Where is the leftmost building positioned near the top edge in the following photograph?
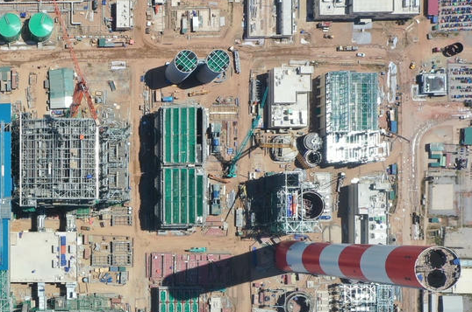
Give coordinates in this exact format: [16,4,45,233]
[115,0,132,32]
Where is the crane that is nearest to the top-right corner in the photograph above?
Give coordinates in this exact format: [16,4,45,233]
[224,87,268,185]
